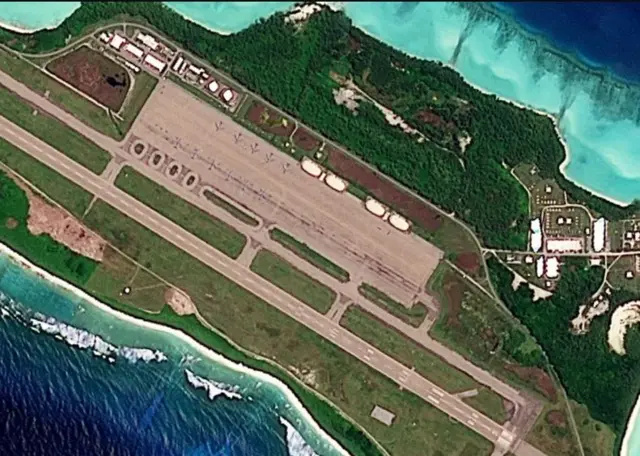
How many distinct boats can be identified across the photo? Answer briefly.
zero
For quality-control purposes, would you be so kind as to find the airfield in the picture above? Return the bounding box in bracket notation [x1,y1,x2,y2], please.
[0,71,544,456]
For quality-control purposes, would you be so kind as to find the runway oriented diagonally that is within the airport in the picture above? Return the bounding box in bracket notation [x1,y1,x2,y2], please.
[0,117,514,450]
